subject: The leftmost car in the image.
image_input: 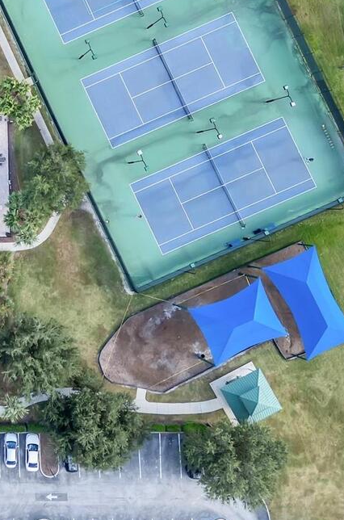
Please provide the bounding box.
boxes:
[4,433,19,467]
